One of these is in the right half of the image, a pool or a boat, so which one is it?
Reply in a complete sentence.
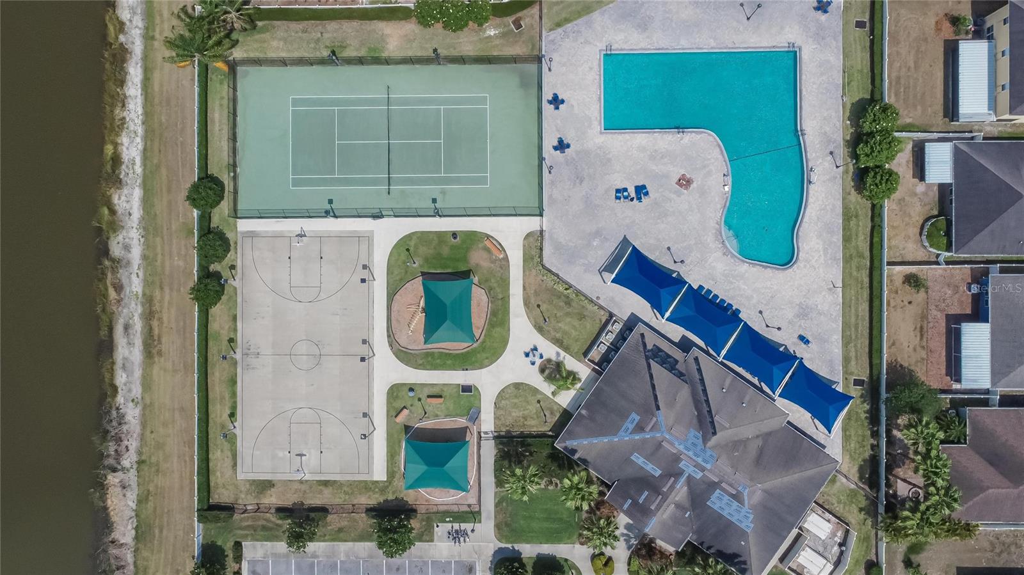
There is a pool in the right half of the image.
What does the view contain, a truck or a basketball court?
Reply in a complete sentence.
I can see a basketball court in this picture.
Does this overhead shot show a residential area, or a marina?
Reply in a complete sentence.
The picture captures a residential area.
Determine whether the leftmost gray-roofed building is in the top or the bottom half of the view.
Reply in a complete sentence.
Seen from above, the leftmost gray-roofed building lies in the bottom half of the view.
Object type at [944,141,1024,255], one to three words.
house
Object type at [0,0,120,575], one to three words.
pond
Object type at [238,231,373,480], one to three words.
basketball court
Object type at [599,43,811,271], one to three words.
swimming pool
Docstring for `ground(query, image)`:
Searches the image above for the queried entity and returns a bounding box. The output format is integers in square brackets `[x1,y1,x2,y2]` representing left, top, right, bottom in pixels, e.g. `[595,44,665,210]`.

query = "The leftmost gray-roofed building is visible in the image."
[554,322,840,575]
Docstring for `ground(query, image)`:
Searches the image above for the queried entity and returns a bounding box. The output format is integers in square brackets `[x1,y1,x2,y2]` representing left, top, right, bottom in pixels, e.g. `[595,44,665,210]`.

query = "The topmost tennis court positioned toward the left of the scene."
[236,64,543,218]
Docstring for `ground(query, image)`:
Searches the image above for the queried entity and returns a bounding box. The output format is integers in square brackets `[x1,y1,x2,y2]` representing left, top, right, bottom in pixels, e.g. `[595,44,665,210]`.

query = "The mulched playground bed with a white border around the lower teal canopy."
[400,415,477,505]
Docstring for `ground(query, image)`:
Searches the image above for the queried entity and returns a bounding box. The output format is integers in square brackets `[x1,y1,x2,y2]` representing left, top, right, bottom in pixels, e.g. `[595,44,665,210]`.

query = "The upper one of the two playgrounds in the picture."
[391,274,489,350]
